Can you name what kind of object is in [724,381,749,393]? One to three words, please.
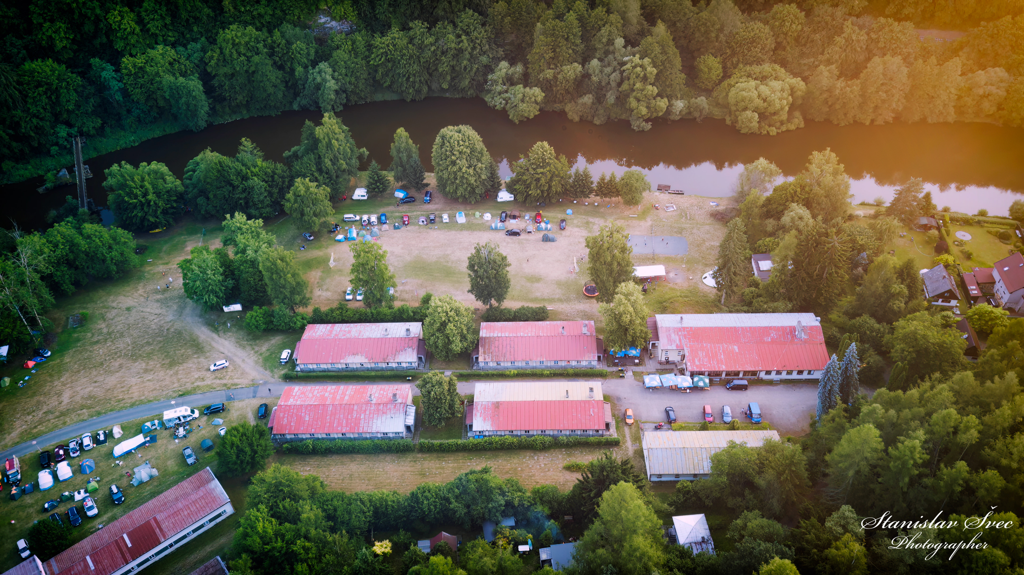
vehicle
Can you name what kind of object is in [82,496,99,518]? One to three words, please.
car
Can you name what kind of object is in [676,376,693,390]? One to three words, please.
umbrella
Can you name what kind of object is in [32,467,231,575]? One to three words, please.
barn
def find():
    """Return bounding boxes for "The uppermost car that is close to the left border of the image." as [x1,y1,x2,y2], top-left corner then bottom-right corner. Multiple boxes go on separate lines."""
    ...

[32,347,52,359]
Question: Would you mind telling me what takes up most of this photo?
trees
